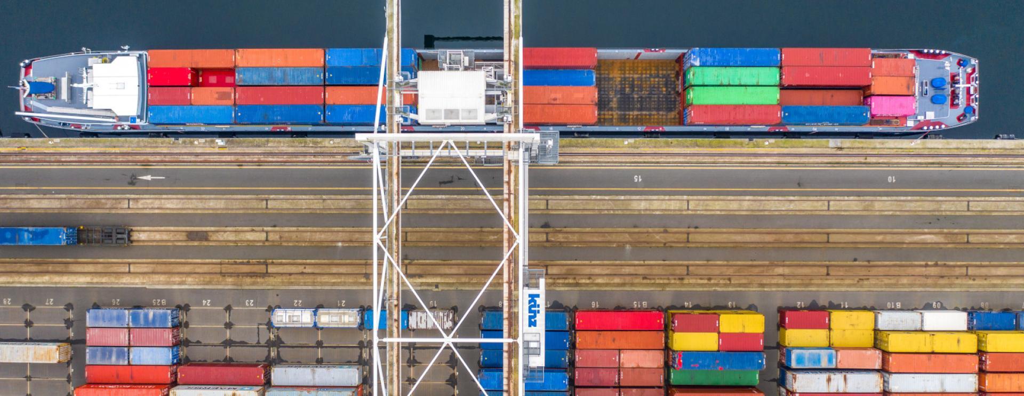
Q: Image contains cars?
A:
No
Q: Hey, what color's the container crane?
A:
white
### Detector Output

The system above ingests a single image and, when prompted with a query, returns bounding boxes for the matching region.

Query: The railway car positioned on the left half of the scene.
[73,228,134,246]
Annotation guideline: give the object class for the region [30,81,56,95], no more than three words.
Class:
boat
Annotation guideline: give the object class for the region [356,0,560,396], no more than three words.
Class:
container crane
